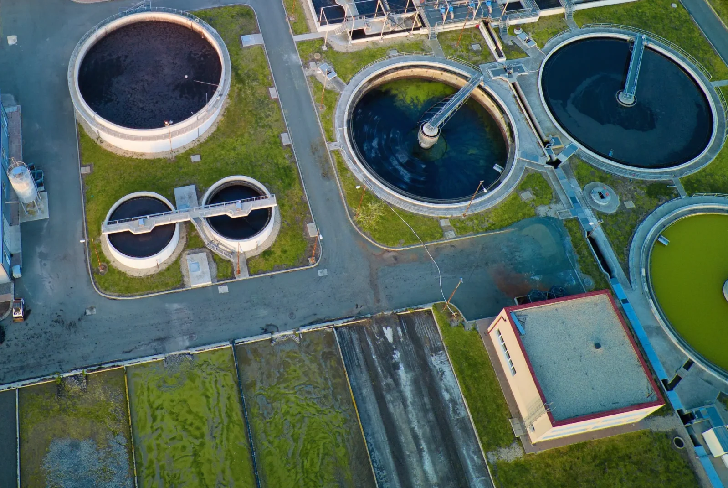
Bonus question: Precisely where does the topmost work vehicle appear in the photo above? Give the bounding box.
[8,293,27,326]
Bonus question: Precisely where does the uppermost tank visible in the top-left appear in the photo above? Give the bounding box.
[67,0,234,153]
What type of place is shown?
industrial area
